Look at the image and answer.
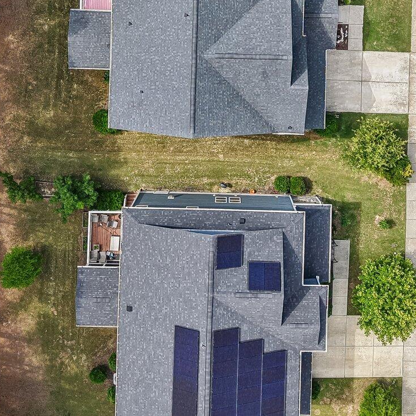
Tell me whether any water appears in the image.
No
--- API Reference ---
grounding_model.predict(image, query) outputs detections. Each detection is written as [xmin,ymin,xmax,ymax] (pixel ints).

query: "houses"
[76,192,333,416]
[68,0,338,138]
